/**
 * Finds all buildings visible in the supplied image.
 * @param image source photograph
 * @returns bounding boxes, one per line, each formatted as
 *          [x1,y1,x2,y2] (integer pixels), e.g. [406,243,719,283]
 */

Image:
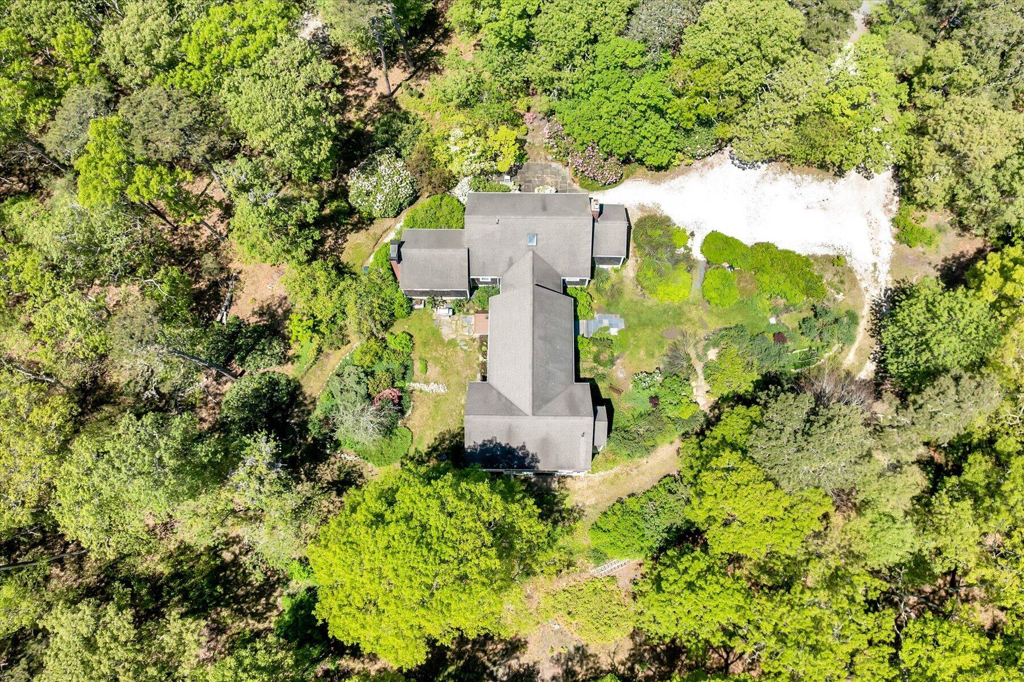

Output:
[389,192,627,481]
